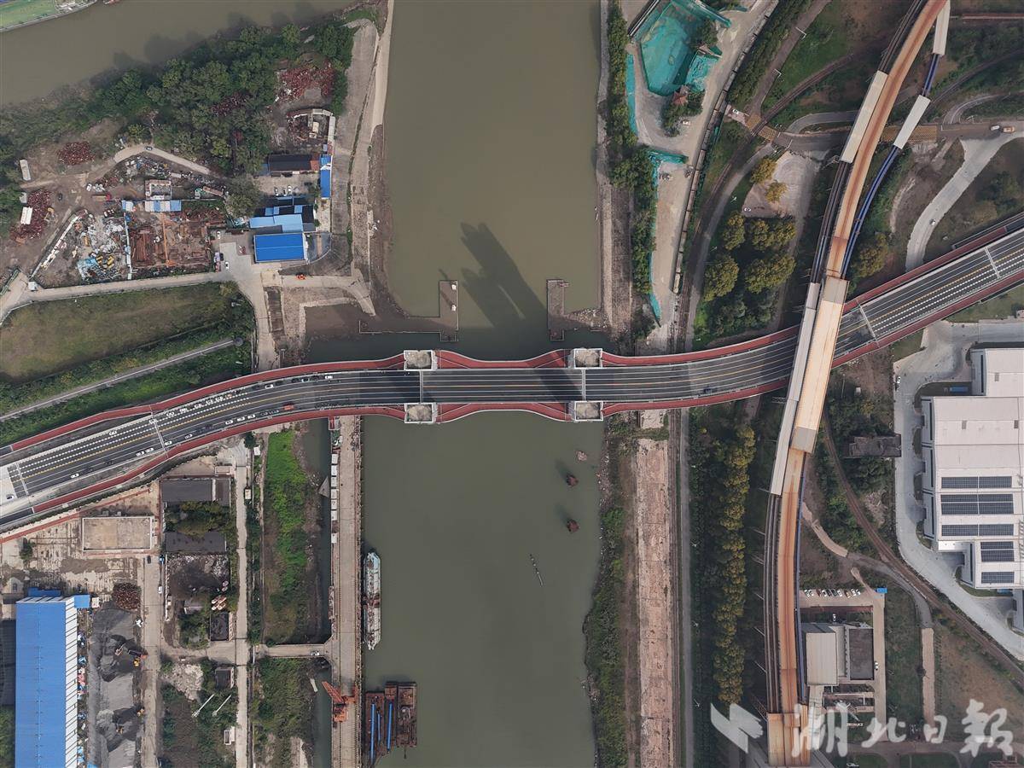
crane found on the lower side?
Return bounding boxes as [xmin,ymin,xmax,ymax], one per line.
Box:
[321,673,358,722]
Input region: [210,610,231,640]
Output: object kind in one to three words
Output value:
house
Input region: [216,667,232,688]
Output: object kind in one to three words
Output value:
house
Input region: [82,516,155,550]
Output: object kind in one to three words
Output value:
building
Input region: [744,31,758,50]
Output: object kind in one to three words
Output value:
rail car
